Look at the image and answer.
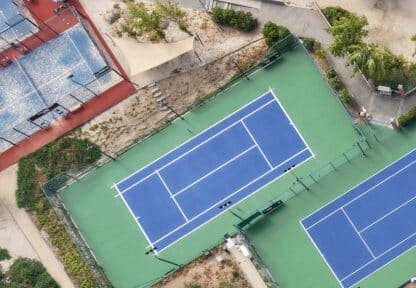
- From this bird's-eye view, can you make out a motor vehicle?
No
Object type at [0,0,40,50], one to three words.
sports court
